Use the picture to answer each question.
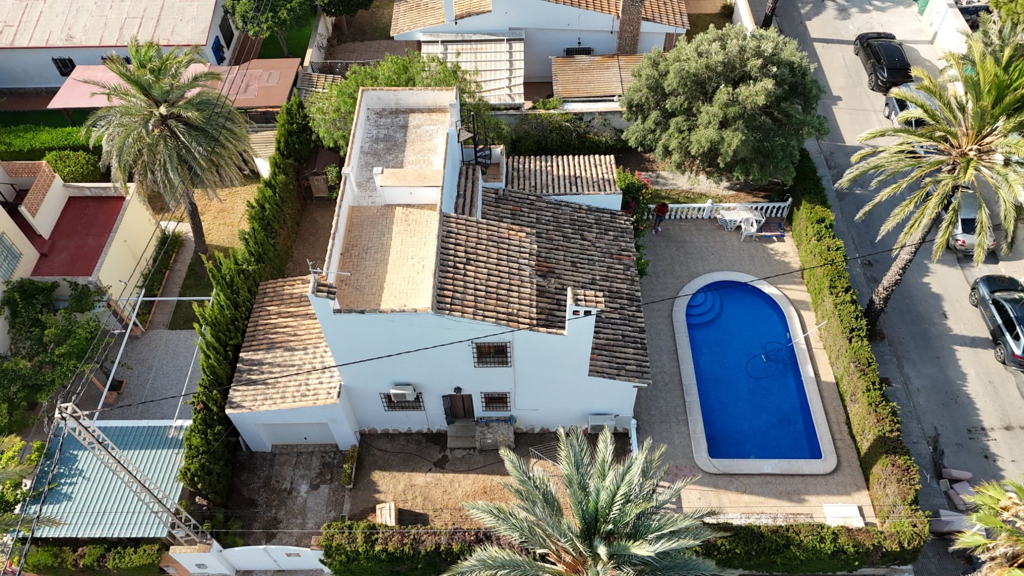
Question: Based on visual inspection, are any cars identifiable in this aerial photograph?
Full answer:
Yes, there's a car down there.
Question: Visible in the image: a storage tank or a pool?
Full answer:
Of the two, only a pool appears.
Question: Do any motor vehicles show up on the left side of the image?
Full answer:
No, the scene shows no motor vehicle on the left side of the image.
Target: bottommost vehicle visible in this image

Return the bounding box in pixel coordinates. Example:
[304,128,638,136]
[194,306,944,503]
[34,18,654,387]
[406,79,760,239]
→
[972,286,1024,382]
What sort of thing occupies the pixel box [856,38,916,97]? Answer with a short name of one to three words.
car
